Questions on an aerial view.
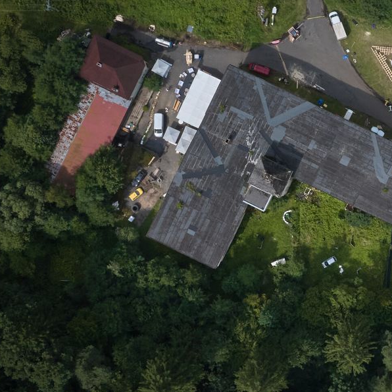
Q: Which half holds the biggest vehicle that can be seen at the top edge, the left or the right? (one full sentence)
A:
You can find the biggest vehicle that can be seen at the top edge on the right side of the picture.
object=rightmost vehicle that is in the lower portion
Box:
[321,254,337,268]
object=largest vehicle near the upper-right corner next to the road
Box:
[327,11,347,43]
